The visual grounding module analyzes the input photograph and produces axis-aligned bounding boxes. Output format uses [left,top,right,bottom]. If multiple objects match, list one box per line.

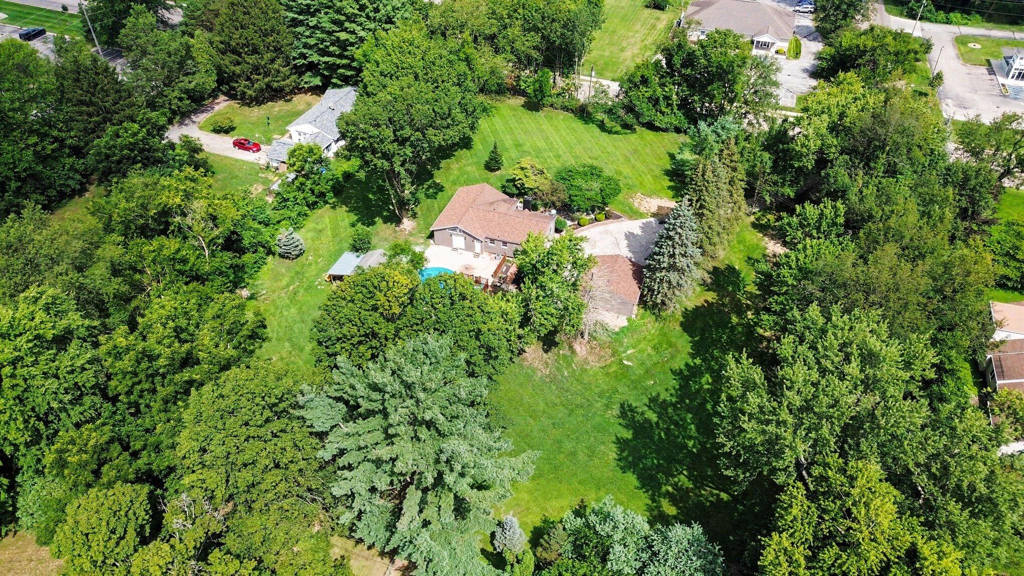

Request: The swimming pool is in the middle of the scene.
[414,269,477,307]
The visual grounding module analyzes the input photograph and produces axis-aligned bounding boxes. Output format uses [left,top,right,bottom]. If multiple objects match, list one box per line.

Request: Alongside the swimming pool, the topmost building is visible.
[428,182,559,258]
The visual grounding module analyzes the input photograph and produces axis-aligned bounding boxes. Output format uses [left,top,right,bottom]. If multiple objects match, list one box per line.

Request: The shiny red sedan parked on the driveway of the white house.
[230,138,262,154]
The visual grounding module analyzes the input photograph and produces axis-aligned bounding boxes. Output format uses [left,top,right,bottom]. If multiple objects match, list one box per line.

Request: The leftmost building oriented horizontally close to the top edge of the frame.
[679,0,797,49]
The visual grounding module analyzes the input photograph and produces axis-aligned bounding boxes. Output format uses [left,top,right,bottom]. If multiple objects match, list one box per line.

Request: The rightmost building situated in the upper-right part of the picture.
[989,36,1024,86]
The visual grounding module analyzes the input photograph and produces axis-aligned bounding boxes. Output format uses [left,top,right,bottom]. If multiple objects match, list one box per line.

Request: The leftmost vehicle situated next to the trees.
[16,28,48,41]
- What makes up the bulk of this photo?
trees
